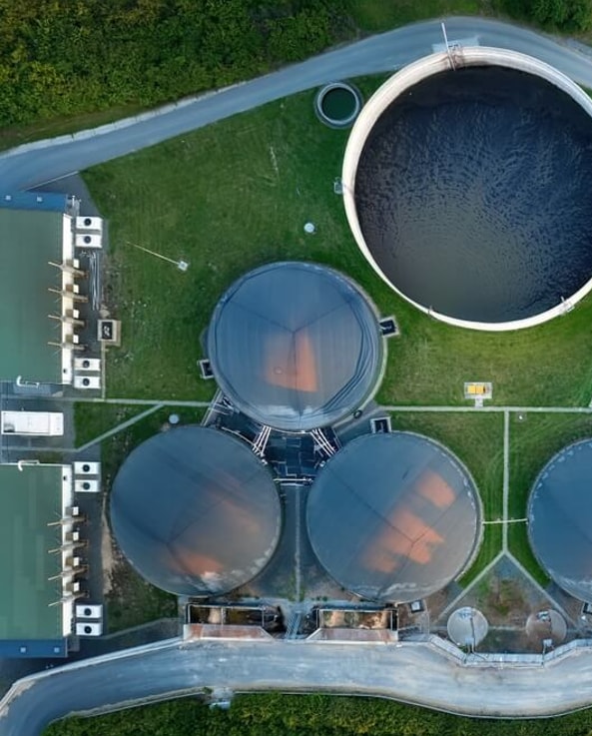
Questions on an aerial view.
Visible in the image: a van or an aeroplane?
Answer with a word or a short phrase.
van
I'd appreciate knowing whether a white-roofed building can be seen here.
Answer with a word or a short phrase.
No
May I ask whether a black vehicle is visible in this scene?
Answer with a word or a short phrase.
No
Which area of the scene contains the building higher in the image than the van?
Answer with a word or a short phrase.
left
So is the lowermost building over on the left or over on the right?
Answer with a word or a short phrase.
left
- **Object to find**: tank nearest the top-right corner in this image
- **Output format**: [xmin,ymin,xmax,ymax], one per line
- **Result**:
[333,22,592,333]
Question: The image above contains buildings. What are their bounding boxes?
[0,193,87,394]
[0,459,87,656]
